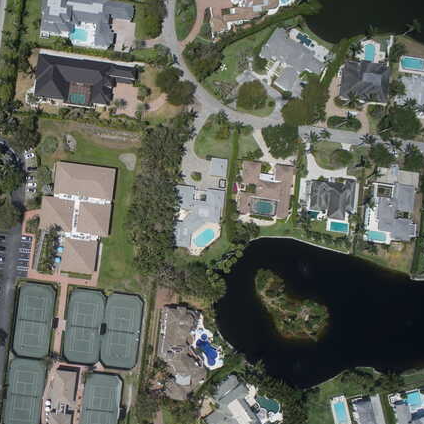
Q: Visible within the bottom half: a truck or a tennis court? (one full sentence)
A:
The feature located within the bottom half is a tennis court.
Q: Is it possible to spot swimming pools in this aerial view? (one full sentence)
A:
Yes, the frame does contain a swimming pool.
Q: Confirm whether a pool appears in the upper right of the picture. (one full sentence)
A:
Yes, looking in the upper right of the picture, one can make out a pool.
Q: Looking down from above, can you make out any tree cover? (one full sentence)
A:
Yes, there's tree cover in this view.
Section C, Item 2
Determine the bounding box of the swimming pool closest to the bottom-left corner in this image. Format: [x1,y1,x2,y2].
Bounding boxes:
[190,314,224,371]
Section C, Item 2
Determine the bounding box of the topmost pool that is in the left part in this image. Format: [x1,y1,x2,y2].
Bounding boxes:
[67,27,94,47]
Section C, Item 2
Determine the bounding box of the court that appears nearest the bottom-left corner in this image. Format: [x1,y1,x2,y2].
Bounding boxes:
[2,358,47,424]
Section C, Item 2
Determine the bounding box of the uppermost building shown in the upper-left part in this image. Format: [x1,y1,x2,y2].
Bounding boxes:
[39,0,135,50]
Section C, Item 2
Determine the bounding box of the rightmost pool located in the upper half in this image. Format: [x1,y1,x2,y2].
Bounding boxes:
[400,54,424,76]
